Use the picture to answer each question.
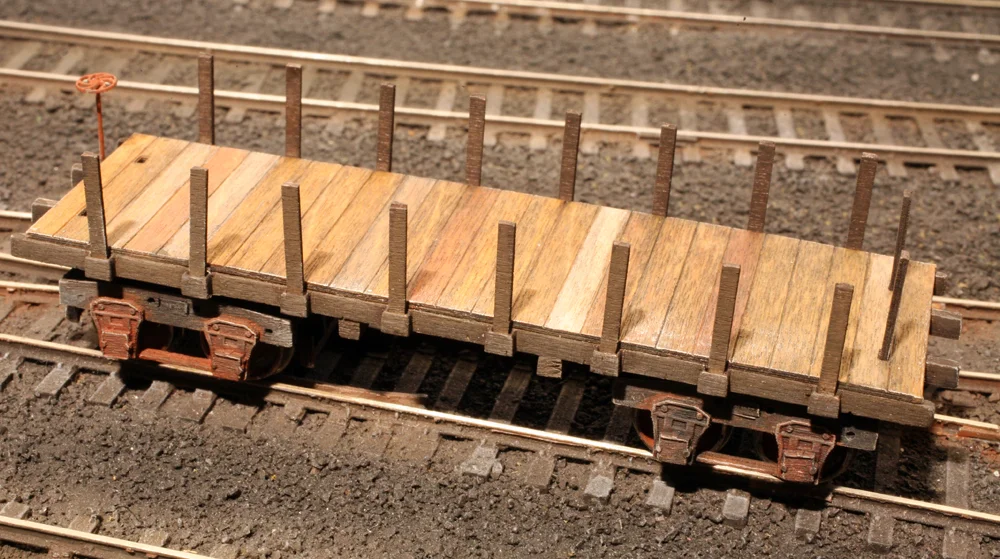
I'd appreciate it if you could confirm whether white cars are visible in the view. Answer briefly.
No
